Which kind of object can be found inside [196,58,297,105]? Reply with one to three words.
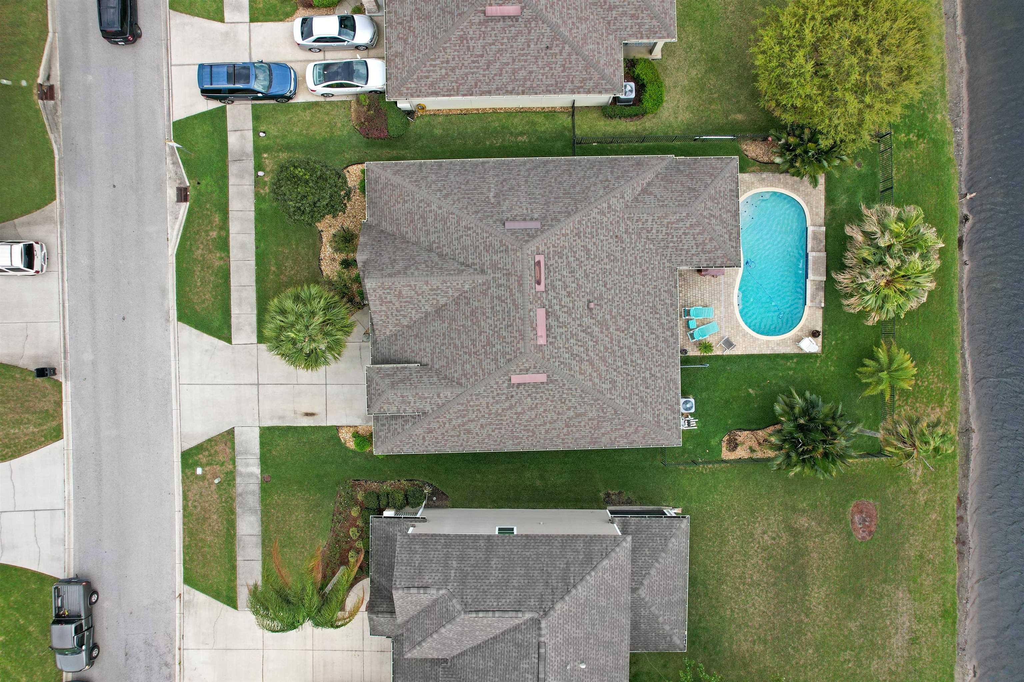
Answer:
car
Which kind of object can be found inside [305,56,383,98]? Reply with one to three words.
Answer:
car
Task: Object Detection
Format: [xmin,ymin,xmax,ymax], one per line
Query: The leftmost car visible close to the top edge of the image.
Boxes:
[98,0,142,43]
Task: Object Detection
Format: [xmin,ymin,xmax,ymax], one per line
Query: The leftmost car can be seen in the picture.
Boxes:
[0,241,50,277]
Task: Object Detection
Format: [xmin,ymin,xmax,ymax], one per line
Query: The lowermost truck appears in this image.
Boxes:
[47,572,100,673]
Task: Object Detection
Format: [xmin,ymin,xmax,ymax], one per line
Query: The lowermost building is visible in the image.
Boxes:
[366,498,691,682]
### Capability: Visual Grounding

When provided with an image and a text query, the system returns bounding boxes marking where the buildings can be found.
[362,0,679,113]
[366,498,691,682]
[356,153,743,457]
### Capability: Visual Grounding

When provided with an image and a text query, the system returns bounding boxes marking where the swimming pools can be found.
[734,187,810,340]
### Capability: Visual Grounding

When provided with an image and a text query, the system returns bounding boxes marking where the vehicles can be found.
[98,0,142,43]
[47,572,100,673]
[196,58,297,105]
[0,241,50,277]
[292,10,377,53]
[305,56,383,98]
